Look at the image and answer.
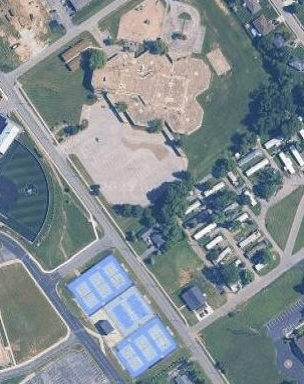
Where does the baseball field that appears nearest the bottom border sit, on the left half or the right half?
left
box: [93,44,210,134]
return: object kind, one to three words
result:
building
